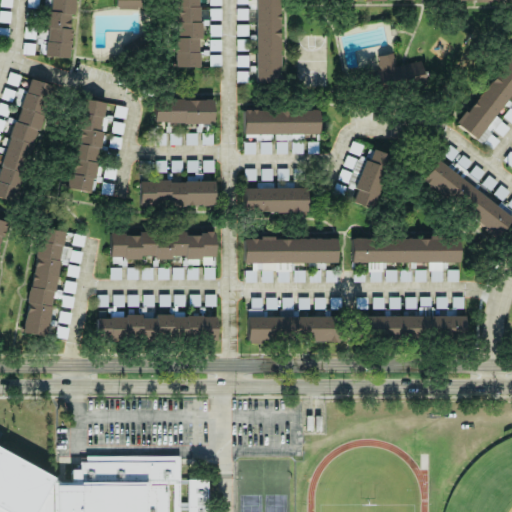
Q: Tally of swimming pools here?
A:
two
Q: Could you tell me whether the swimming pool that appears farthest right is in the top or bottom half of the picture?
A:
top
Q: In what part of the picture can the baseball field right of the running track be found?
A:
bottom right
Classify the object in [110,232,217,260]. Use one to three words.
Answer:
building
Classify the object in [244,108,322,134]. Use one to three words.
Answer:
building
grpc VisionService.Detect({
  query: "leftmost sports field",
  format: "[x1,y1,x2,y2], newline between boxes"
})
[316,446,420,512]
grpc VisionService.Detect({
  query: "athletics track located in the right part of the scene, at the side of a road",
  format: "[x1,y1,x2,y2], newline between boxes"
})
[308,439,429,512]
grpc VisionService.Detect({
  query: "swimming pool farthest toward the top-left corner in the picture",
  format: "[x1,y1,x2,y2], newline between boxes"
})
[92,9,144,62]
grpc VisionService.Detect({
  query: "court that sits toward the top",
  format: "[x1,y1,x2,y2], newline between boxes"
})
[299,34,327,87]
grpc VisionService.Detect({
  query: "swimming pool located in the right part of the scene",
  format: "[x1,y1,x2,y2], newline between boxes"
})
[336,22,394,73]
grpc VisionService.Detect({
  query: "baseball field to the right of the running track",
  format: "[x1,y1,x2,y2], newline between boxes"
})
[446,438,512,512]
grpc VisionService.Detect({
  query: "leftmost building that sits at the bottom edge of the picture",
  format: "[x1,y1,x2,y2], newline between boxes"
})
[0,446,58,512]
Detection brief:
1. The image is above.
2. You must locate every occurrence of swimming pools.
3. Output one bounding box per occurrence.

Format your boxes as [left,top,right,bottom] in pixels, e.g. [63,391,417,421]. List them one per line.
[336,22,394,73]
[92,9,144,62]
